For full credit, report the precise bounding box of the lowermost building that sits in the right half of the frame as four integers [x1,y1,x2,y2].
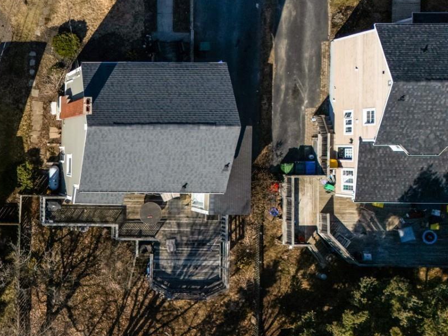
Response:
[329,24,448,203]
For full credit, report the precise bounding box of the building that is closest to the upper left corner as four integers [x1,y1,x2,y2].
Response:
[47,62,252,216]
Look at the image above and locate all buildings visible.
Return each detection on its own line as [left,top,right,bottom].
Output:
[329,24,448,203]
[47,62,252,216]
